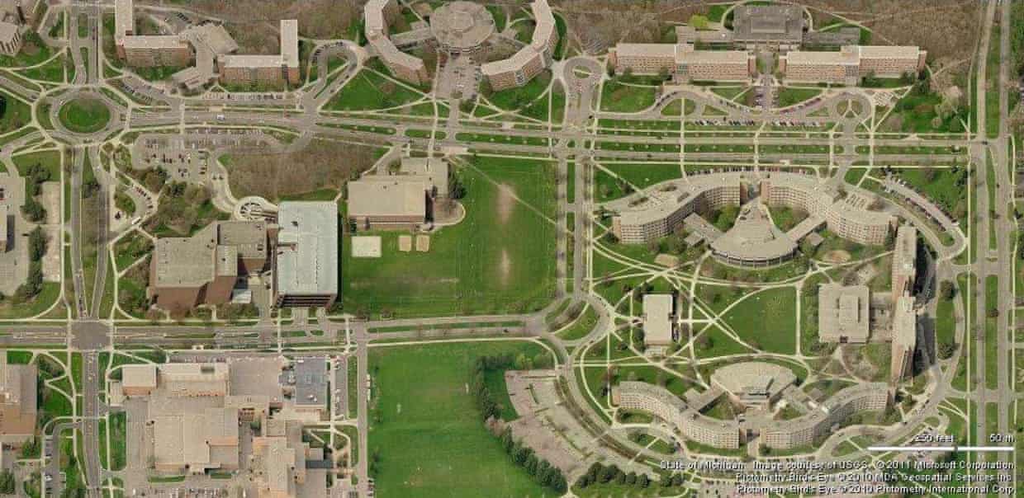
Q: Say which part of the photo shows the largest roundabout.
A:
top left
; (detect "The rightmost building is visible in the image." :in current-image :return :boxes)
[891,227,928,387]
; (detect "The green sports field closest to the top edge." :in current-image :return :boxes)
[341,158,557,318]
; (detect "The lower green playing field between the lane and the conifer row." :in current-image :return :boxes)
[368,340,565,498]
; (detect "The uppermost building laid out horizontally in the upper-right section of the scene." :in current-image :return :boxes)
[675,5,860,53]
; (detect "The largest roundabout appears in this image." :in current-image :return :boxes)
[49,91,119,140]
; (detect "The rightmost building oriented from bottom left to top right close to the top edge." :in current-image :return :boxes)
[481,0,556,90]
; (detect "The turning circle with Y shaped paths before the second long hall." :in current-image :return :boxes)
[829,93,870,122]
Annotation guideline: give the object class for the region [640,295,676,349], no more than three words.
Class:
building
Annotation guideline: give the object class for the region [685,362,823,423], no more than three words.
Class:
building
